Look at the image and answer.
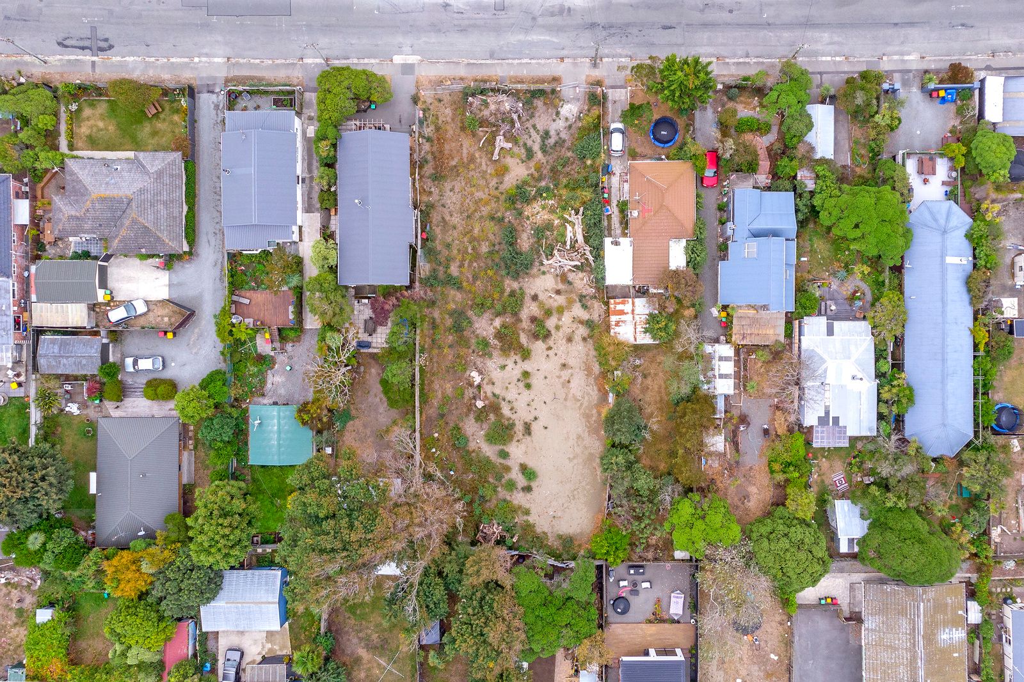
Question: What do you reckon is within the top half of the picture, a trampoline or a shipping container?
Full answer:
It is a trampoline that can be seen within the top half of the picture.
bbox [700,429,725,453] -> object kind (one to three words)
shed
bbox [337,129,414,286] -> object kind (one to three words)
house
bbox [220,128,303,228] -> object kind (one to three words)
house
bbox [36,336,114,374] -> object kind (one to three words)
shed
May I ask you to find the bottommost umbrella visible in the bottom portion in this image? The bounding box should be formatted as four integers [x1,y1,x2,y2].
[669,591,684,620]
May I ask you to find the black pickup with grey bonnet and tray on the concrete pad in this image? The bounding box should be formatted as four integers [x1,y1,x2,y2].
[220,647,242,682]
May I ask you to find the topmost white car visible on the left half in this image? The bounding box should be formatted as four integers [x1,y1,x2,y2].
[105,297,147,326]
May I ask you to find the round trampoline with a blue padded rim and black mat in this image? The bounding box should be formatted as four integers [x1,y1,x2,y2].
[648,111,683,147]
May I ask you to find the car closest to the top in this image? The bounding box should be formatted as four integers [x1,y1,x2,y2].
[608,121,626,156]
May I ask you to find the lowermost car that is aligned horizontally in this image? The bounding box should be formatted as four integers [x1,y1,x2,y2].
[123,355,163,372]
